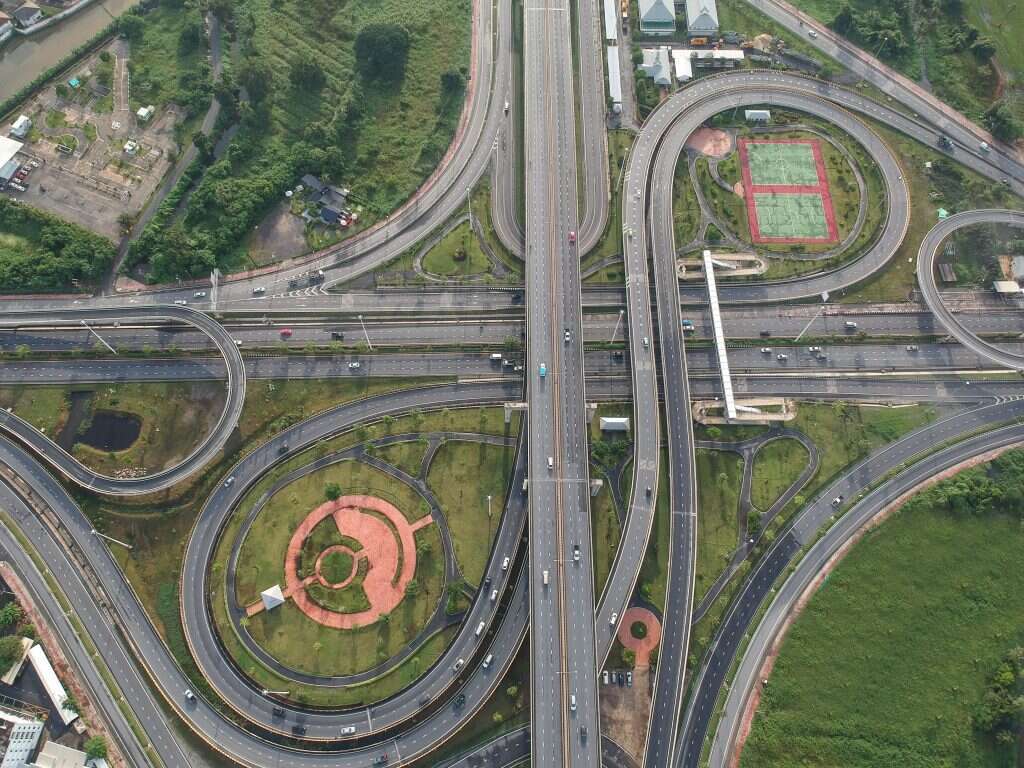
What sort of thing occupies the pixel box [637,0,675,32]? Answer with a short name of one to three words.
building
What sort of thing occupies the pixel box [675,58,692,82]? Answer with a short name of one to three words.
shed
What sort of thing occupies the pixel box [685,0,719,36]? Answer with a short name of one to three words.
building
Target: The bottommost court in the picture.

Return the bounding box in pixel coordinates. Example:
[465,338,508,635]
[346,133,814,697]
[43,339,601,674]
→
[745,188,839,243]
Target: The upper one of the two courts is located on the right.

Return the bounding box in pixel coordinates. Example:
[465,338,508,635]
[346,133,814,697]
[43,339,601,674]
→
[738,139,830,188]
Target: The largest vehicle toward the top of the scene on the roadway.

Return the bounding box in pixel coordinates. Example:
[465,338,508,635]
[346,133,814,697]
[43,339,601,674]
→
[288,268,323,289]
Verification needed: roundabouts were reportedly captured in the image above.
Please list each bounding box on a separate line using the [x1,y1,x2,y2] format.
[617,608,661,668]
